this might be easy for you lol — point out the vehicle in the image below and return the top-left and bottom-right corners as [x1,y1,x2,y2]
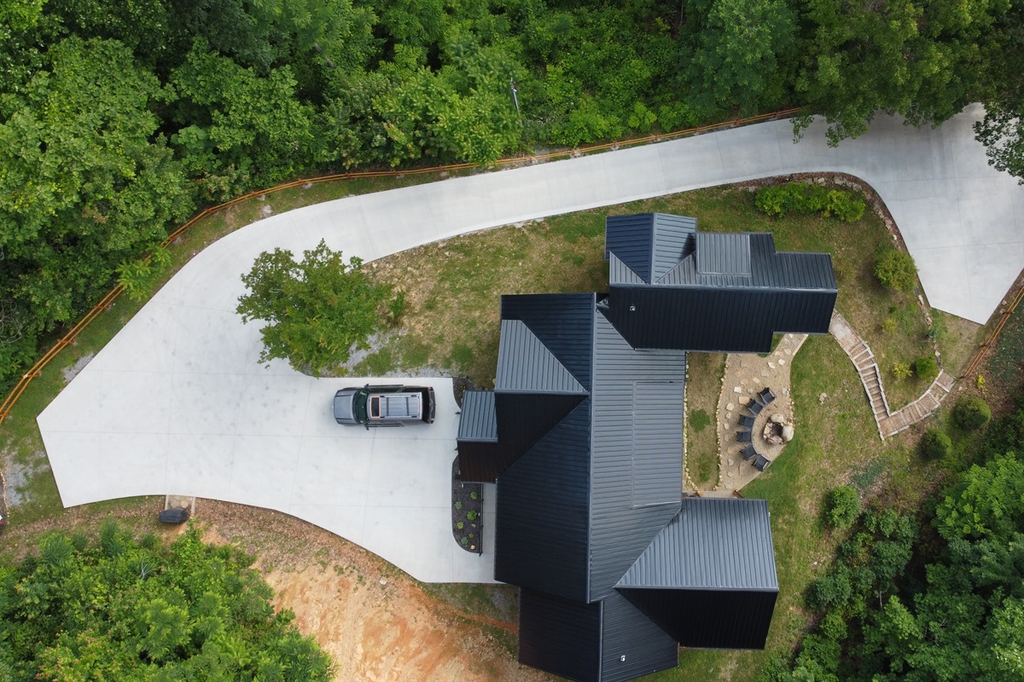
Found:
[333,383,437,428]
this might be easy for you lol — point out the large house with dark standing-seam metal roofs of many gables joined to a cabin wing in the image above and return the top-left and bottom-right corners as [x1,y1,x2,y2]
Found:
[454,212,839,682]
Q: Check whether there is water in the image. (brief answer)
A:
No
